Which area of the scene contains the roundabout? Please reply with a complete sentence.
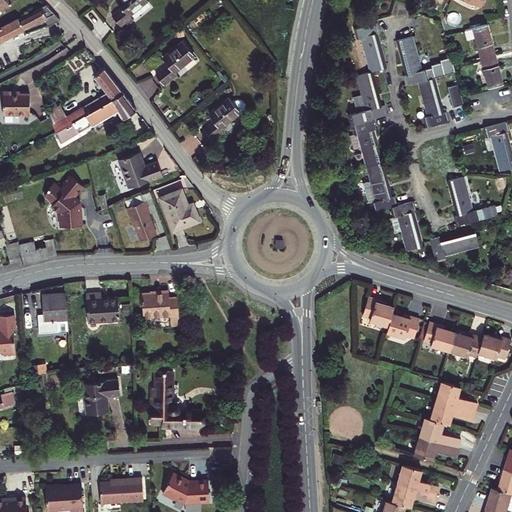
Look in the center portion of the view to spot the roundabout.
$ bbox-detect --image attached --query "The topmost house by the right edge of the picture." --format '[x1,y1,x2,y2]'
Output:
[466,22,494,48]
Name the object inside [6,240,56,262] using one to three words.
building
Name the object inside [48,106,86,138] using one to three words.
house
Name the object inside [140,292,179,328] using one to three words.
house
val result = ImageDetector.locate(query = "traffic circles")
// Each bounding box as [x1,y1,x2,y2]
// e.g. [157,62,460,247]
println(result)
[221,188,340,302]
